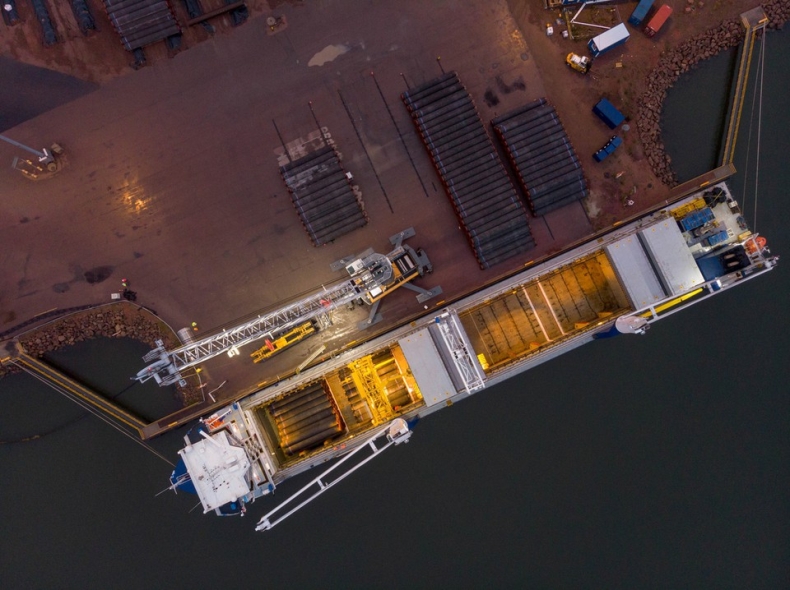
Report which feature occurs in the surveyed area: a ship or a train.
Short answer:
ship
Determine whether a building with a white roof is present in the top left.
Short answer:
No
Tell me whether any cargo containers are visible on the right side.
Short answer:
Yes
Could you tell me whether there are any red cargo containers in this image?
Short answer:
Yes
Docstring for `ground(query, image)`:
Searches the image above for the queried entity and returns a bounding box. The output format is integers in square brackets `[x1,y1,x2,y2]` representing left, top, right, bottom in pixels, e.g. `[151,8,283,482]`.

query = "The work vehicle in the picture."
[565,53,592,76]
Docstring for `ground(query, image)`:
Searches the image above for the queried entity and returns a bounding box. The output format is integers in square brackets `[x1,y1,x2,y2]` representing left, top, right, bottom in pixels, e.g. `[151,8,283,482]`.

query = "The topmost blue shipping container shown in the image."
[626,0,653,29]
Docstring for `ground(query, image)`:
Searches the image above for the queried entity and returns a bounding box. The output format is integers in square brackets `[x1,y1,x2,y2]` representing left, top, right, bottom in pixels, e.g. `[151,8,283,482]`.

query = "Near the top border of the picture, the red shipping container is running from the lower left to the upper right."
[643,4,671,37]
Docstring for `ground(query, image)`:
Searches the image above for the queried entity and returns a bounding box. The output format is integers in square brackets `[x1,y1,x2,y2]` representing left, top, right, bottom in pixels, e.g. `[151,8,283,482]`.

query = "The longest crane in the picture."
[134,228,442,389]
